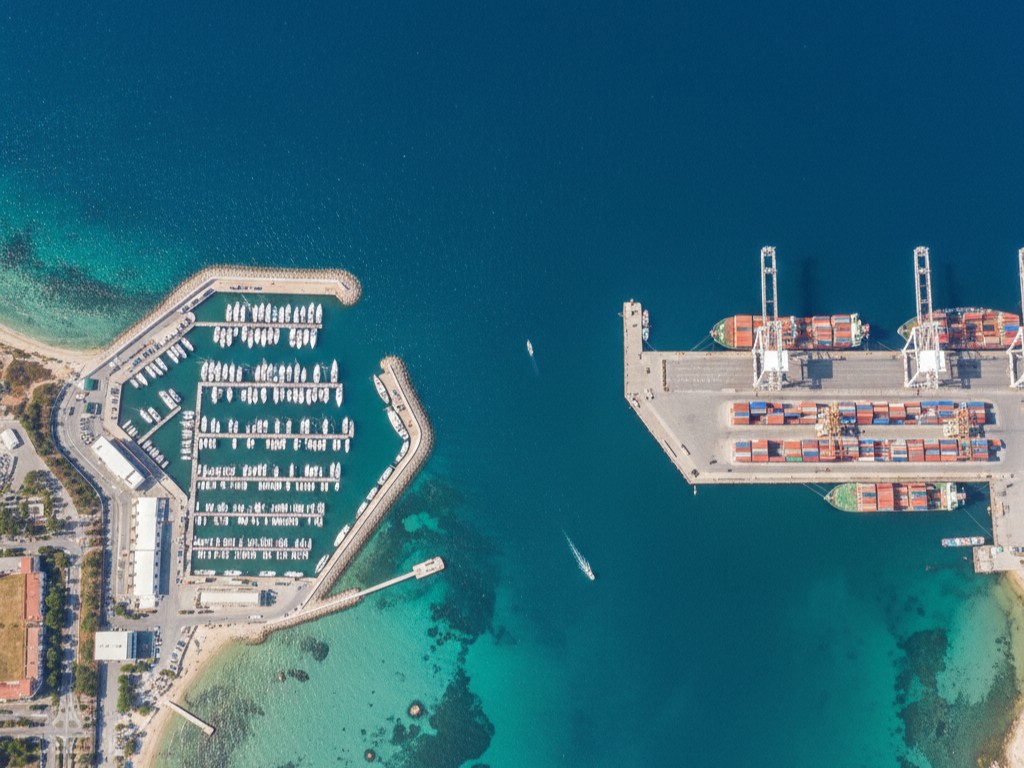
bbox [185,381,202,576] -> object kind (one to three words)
pier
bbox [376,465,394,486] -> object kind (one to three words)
boat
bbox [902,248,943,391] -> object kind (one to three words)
container crane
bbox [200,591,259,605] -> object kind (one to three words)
building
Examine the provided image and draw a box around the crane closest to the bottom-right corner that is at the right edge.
[942,400,973,469]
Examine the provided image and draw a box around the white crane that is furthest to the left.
[751,247,787,391]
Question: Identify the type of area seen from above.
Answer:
port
